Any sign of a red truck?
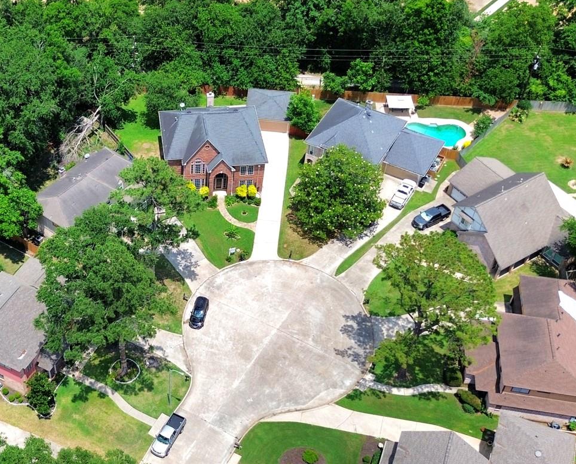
No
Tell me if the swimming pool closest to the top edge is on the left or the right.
right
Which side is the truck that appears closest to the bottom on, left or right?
left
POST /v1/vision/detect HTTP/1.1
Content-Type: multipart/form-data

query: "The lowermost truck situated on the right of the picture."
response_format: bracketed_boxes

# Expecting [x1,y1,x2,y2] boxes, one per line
[412,201,451,228]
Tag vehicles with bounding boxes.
[390,178,416,207]
[412,201,451,228]
[189,289,209,326]
[149,407,191,459]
